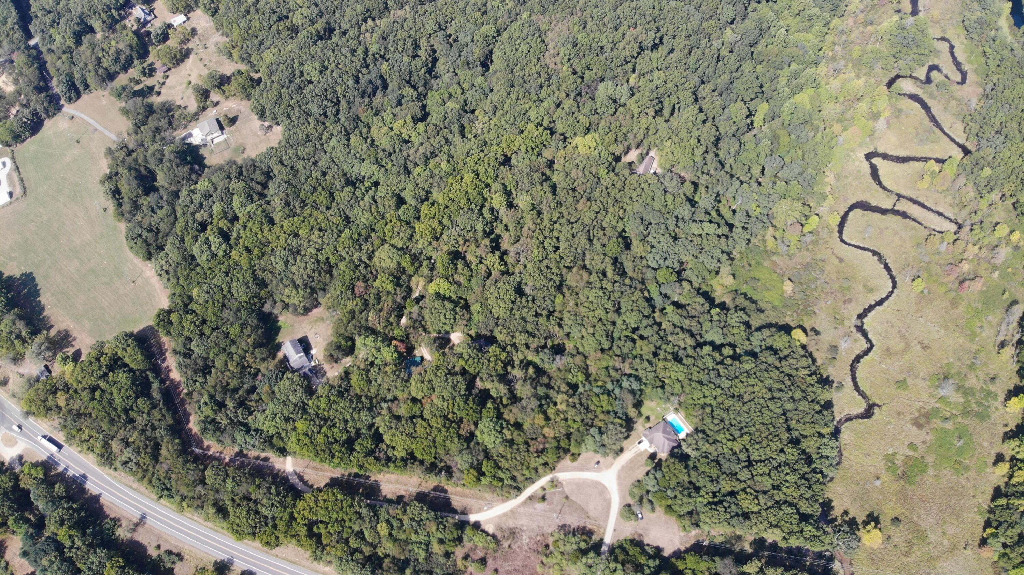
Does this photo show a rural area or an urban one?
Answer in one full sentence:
The area shown here is rural.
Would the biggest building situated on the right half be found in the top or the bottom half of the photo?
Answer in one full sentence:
The biggest building situated on the right half sits in the bottom half of the picture.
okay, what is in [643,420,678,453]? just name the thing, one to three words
building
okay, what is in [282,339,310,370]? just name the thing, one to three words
house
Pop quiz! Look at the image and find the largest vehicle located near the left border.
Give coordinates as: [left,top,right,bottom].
[38,436,62,453]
